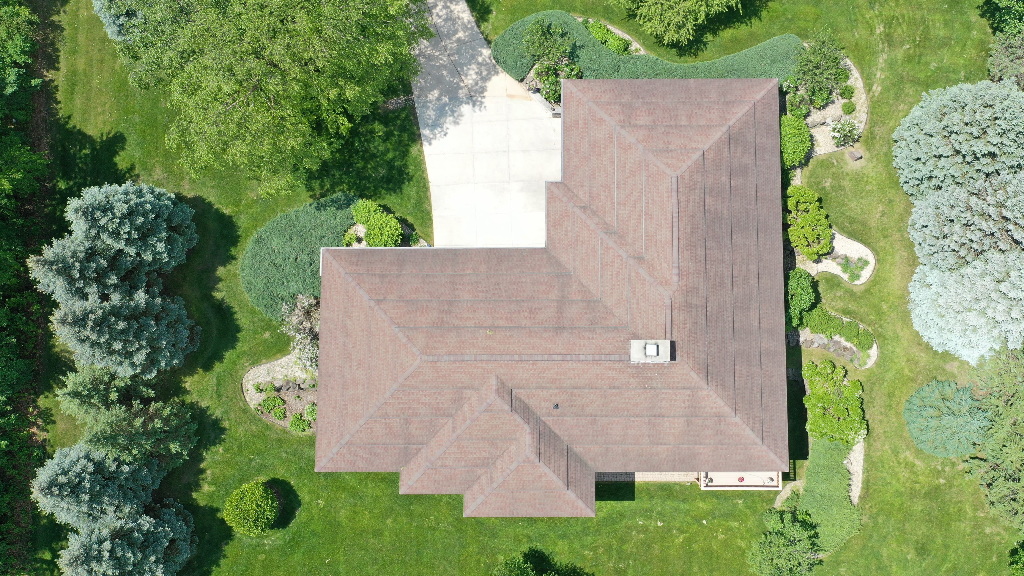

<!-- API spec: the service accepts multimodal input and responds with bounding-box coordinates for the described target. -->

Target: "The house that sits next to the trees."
[315,77,790,518]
